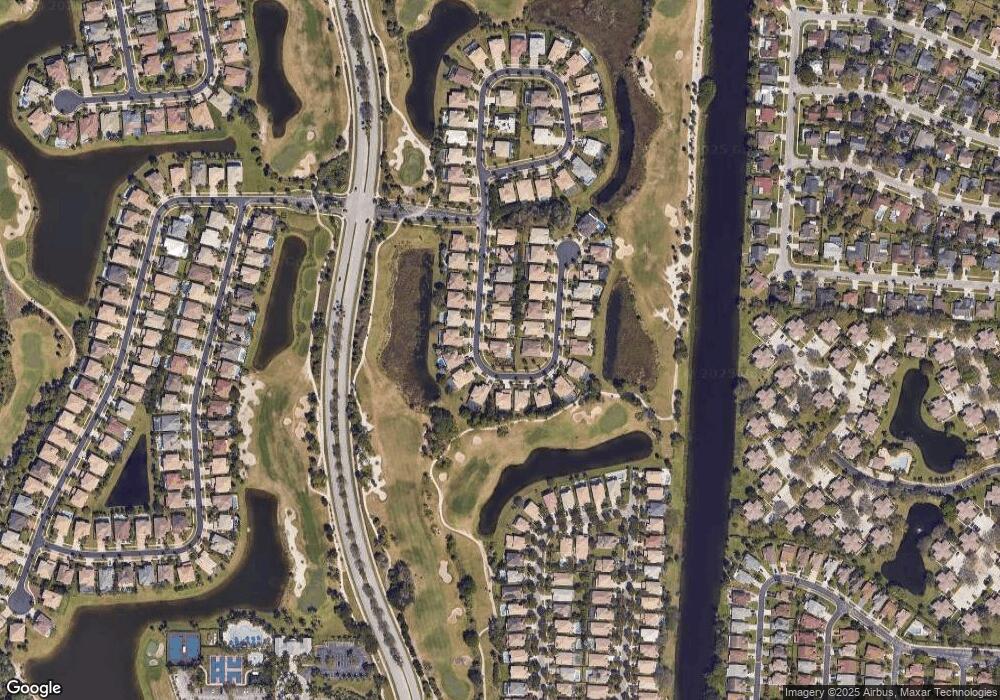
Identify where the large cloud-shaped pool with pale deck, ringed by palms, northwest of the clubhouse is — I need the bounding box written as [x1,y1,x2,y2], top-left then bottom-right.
[223,620,271,649]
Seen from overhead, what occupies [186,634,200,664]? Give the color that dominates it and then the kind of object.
blue tennis court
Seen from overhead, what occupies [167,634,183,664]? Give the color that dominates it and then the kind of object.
blue tennis court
